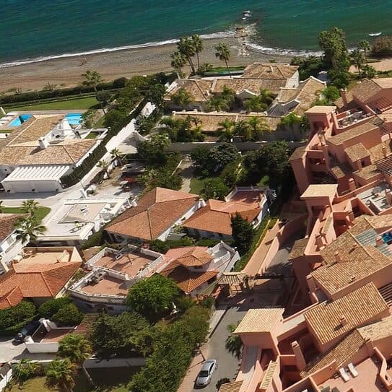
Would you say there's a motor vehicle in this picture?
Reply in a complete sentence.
Yes, there's a motor vehicle down there.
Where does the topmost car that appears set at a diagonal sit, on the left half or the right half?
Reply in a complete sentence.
The topmost car that appears set at a diagonal appears in the left half of the scene.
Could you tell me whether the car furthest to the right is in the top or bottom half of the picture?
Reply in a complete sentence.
The car furthest to the right sits in the bottom half of the picture.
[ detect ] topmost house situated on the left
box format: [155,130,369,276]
[0,115,113,203]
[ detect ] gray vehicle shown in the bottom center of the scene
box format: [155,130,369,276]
[191,361,218,388]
